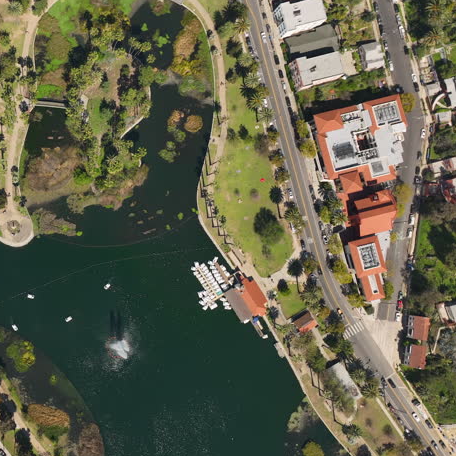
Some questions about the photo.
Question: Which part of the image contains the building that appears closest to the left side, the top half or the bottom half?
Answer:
bottom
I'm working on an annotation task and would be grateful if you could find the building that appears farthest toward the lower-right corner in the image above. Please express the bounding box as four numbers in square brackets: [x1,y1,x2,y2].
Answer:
[400,344,428,370]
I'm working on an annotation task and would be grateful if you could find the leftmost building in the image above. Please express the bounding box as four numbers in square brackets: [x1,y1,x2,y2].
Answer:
[221,277,268,323]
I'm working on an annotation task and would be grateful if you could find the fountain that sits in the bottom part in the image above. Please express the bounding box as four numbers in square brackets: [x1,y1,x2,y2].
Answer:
[104,336,132,358]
